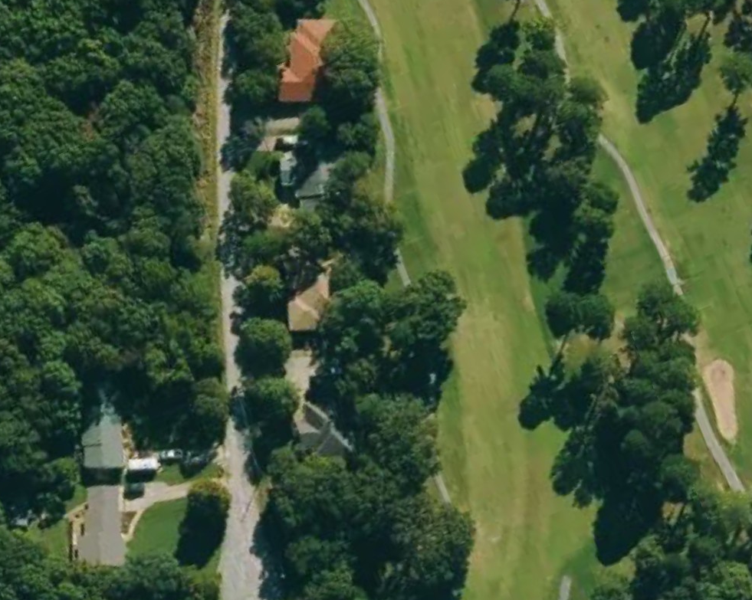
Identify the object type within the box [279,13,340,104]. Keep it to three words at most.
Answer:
house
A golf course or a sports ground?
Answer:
golf course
